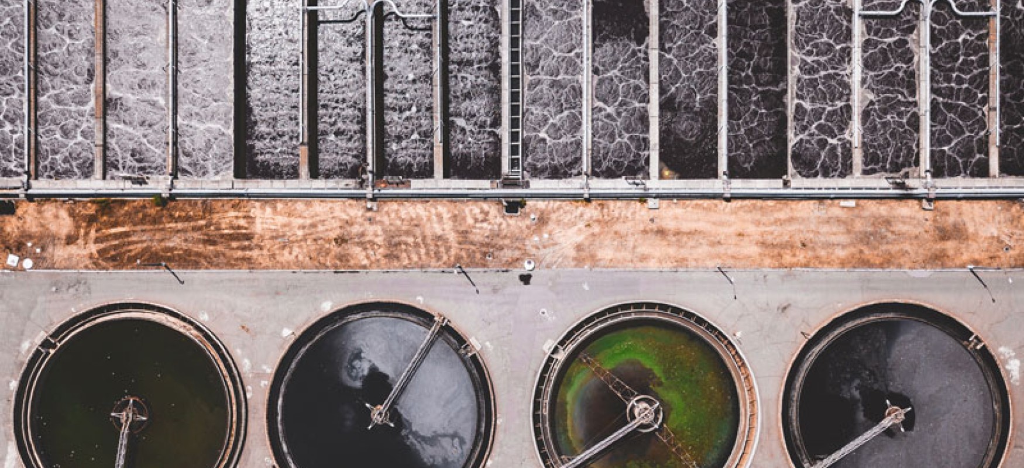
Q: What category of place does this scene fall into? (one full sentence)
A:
The picture captures an industrial area.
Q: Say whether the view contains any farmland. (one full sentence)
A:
No, there is no farmland in the image.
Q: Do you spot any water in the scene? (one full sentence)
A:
Yes, water shows up in the scene.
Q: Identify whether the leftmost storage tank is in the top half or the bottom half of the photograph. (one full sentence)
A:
The leftmost storage tank sits in the bottom half of the picture.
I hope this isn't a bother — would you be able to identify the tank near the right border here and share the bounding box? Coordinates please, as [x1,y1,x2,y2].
[782,301,1011,468]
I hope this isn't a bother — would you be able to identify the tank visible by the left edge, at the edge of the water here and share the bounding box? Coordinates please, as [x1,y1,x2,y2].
[13,302,245,468]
